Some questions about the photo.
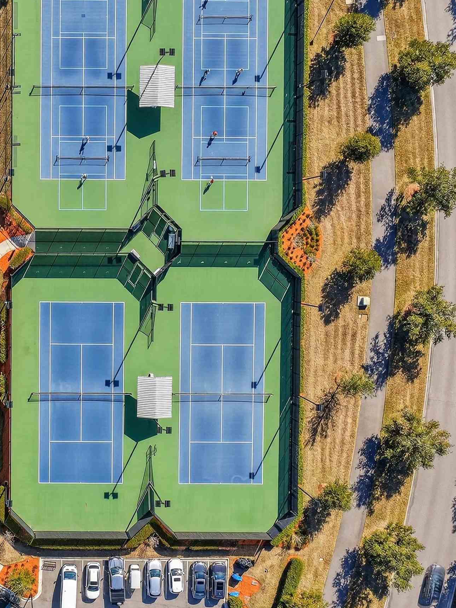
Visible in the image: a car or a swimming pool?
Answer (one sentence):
Of the two, only a car appears.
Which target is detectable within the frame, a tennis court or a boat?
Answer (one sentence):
The one in the frame is a tennis court.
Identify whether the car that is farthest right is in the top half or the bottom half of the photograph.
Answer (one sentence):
It is in the bottom half that the car that is farthest right appears.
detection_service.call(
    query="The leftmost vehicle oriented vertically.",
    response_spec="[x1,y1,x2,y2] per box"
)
[58,559,78,608]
